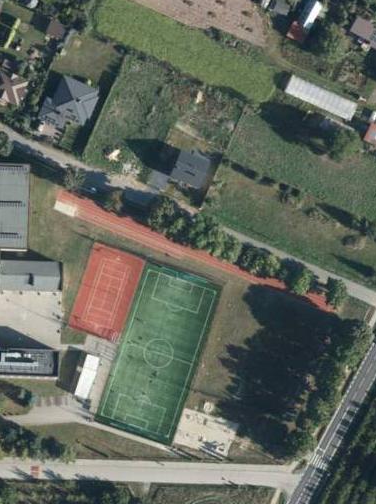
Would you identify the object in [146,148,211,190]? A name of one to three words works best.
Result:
house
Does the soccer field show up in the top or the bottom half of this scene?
bottom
